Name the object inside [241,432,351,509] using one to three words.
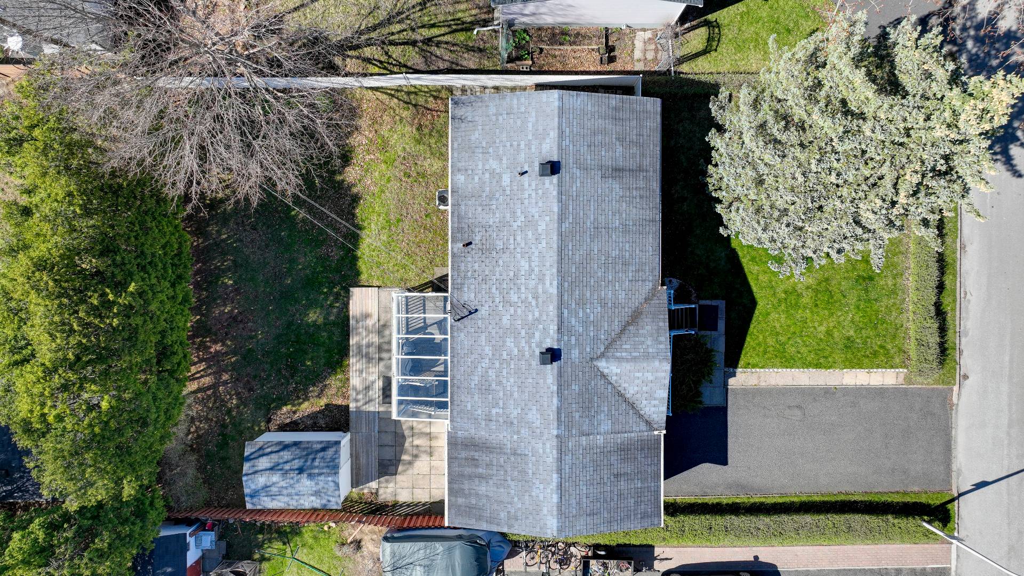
shed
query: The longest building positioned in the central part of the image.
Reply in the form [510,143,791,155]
[443,89,671,538]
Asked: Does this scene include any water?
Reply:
No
